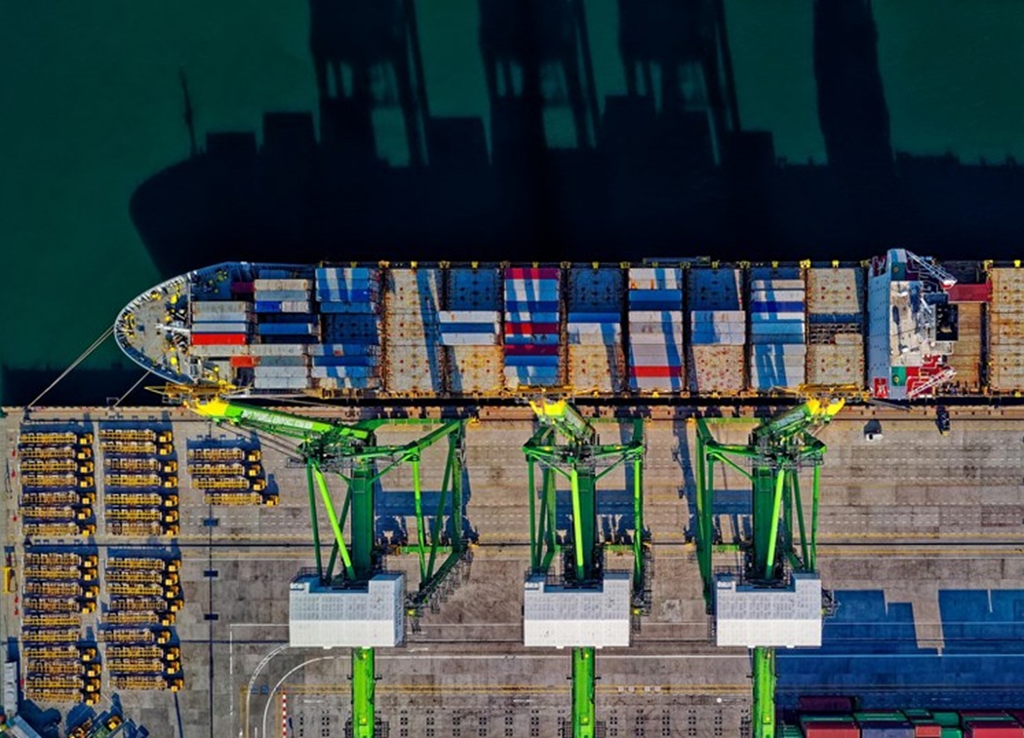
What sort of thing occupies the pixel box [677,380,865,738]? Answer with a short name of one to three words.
container crane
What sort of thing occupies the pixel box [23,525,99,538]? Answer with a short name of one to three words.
vehicle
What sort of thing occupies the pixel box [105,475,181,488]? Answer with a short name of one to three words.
vehicle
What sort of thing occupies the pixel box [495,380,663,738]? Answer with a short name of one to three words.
container crane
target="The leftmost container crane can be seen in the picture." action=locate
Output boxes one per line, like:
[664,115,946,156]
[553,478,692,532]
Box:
[148,380,489,738]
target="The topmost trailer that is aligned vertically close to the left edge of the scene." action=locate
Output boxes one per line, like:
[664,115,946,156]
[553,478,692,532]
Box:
[5,663,24,721]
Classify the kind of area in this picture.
port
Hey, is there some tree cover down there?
No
